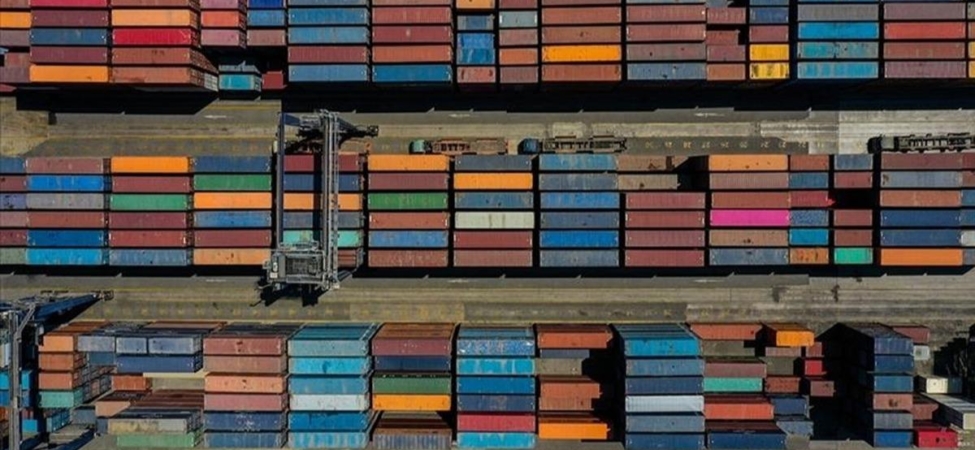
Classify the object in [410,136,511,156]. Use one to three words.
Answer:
vehicle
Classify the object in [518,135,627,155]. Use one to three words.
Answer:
vehicle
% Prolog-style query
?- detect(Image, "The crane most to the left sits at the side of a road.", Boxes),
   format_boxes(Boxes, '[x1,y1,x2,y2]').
[0,290,107,450]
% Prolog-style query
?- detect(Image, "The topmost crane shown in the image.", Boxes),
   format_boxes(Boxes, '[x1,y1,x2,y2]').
[267,108,382,293]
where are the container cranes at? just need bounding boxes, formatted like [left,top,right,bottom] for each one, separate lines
[267,108,382,293]
[0,290,107,450]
